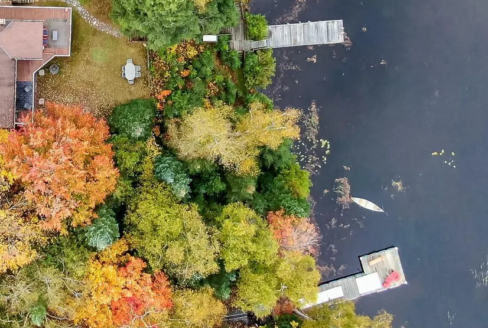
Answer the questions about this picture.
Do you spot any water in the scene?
Yes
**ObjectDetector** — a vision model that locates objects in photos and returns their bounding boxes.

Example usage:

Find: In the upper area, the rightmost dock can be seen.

[253,20,345,49]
